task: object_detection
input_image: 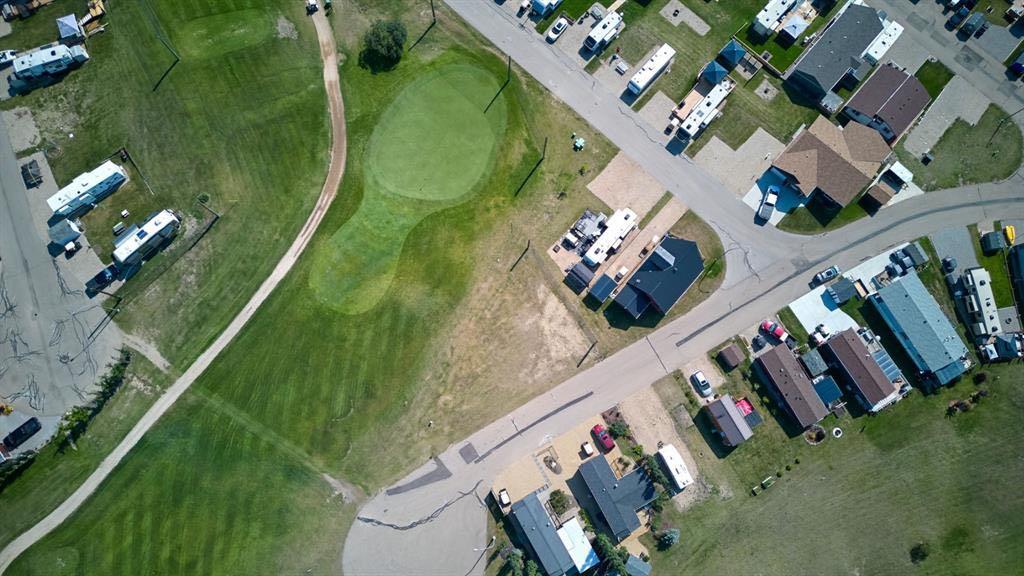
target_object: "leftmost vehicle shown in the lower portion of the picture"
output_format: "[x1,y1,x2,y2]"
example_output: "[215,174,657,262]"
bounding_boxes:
[3,417,43,449]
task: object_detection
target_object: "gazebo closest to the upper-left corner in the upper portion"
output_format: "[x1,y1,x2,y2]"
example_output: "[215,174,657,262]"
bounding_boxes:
[57,14,88,44]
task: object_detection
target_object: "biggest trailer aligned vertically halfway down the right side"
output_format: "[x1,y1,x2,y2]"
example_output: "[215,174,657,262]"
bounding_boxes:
[957,267,1002,343]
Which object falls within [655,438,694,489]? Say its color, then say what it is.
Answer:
white trailer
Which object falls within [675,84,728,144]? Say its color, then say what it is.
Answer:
white camper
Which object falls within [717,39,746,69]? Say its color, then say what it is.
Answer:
blue gazebo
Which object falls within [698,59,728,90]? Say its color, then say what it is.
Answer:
blue gazebo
